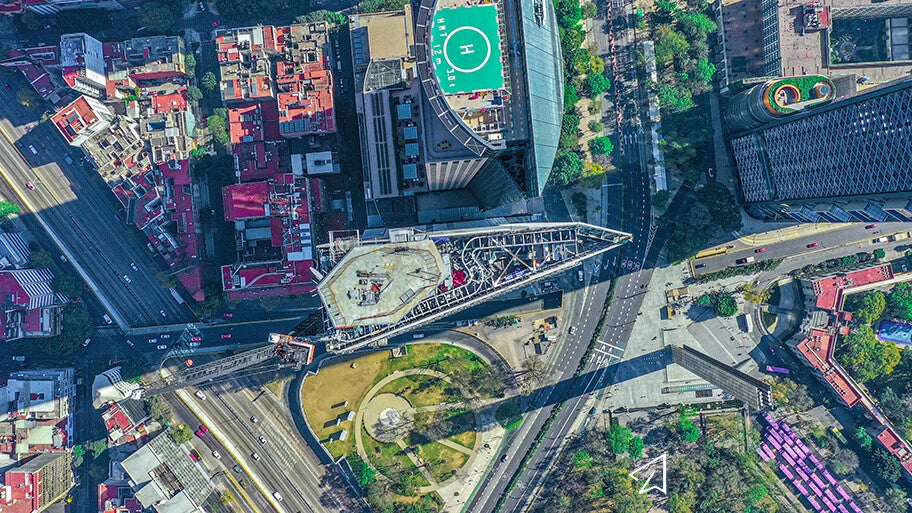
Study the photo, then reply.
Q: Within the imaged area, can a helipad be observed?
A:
Yes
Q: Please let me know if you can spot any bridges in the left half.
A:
Yes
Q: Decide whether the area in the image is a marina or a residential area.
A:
residential area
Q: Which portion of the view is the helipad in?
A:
top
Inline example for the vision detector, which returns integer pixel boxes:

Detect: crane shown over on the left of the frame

[134,315,334,403]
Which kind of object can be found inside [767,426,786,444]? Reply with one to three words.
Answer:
vehicle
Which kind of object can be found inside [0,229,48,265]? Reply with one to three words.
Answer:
building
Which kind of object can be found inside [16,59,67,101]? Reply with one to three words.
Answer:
house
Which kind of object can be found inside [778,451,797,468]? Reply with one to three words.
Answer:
vehicle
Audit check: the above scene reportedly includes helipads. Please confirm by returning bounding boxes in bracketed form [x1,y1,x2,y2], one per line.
[431,5,503,95]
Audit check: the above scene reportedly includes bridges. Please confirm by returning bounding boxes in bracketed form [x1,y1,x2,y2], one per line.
[121,315,268,362]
